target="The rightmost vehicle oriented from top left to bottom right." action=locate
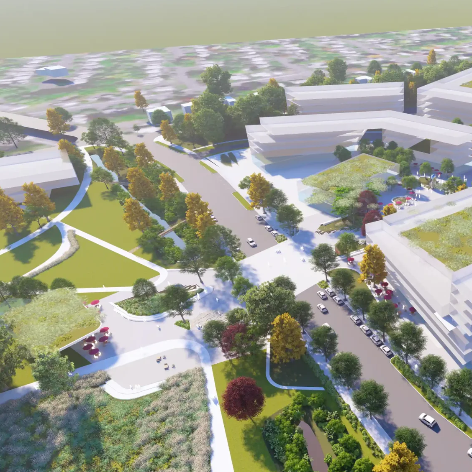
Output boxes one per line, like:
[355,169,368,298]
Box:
[421,413,437,430]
